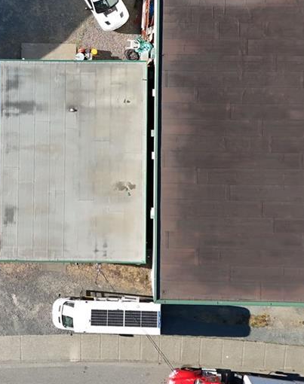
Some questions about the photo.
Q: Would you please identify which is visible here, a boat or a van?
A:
van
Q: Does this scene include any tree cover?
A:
No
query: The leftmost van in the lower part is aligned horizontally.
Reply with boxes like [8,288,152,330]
[53,292,160,338]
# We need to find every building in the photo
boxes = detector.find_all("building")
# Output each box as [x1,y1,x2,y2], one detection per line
[150,0,304,306]
[0,60,148,269]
